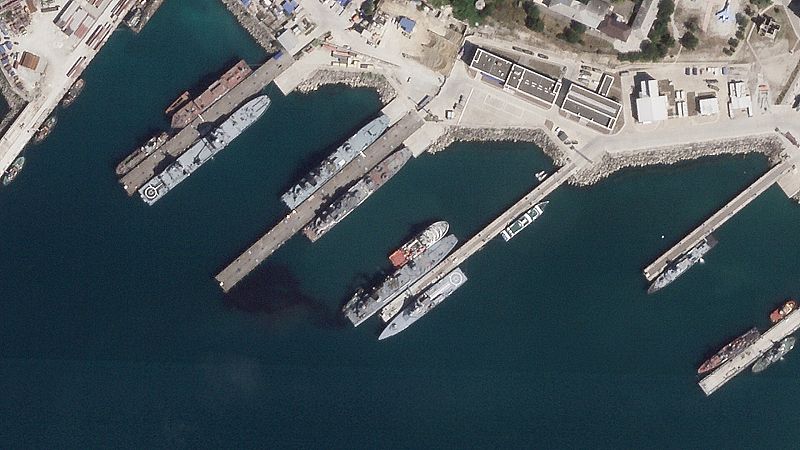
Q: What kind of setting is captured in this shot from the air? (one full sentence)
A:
This looks like a port.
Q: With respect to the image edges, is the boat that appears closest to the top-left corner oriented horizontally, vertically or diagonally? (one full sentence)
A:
From this overhead view, the boat that appears closest to the top-left corner appears to run diagonally.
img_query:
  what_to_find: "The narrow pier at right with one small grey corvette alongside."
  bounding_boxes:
[643,161,788,280]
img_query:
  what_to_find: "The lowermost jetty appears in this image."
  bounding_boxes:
[698,305,800,395]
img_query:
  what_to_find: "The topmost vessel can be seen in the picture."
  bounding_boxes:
[120,0,165,37]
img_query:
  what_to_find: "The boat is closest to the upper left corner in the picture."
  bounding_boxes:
[62,80,84,107]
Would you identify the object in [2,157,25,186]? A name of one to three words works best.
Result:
boat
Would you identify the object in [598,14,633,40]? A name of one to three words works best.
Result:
house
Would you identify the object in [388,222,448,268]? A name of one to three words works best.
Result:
ship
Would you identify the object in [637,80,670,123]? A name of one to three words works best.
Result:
building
